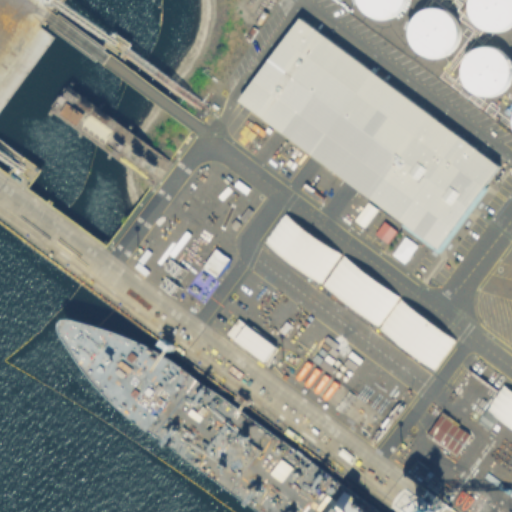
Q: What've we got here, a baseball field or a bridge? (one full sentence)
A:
Of the two, only a bridge appears.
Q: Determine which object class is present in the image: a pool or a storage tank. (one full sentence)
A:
There is a storage tank in the scene.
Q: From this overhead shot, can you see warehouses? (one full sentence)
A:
Yes, a warehouse is visible in the scene.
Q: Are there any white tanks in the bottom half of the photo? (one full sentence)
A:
No, the scene shows no white tank in the bottom half of the photo.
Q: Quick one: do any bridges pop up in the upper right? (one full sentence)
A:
No, no bridge can be made out in the upper right.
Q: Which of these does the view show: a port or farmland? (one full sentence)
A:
The picture captures a port.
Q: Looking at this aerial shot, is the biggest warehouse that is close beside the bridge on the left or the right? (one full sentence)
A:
You can find the biggest warehouse that is close beside the bridge on the right side of the picture.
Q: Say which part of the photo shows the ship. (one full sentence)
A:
The ship appears toward the bottom of the photo.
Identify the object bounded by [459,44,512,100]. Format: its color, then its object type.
white storage tank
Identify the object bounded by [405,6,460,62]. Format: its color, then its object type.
white storage tank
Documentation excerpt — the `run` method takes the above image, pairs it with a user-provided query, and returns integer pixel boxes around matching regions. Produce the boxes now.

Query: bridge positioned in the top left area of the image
[46,14,200,130]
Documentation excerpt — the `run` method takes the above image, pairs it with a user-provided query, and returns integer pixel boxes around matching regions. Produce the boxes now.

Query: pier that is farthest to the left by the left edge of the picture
[0,138,41,188]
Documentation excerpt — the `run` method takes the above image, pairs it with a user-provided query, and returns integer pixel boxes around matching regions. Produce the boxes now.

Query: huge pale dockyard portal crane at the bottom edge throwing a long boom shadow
[396,492,445,512]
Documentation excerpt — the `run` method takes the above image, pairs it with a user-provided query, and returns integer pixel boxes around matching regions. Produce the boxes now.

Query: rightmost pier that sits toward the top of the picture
[48,90,177,186]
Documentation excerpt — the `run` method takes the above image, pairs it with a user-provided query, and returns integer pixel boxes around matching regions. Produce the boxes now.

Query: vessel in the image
[57,320,374,512]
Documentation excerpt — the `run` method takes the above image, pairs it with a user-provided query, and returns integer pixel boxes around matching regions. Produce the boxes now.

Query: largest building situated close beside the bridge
[238,20,500,255]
